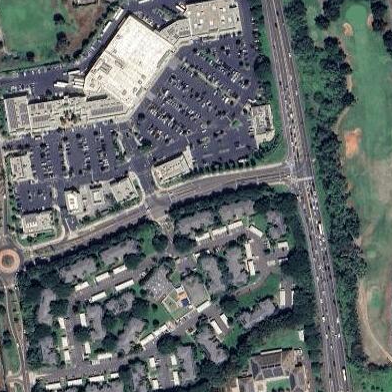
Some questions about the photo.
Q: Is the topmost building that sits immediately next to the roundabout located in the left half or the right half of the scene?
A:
left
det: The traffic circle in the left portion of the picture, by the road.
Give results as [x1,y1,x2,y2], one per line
[0,240,28,282]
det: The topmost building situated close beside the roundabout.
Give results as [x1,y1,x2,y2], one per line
[22,211,53,238]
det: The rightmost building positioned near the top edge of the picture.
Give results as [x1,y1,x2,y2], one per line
[184,0,240,41]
